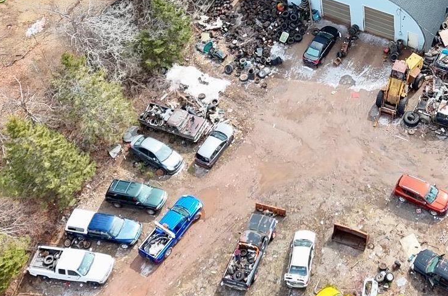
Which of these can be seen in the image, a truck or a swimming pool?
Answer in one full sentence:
There is a truck in the scene.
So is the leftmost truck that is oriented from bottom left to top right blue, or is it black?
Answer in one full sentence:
The color of the leftmost truck that is oriented from bottom left to top right is blue.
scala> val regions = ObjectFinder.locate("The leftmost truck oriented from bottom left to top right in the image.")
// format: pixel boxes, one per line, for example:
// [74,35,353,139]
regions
[140,195,209,265]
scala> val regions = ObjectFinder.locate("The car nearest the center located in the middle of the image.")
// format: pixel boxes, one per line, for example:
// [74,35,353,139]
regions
[192,122,239,172]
